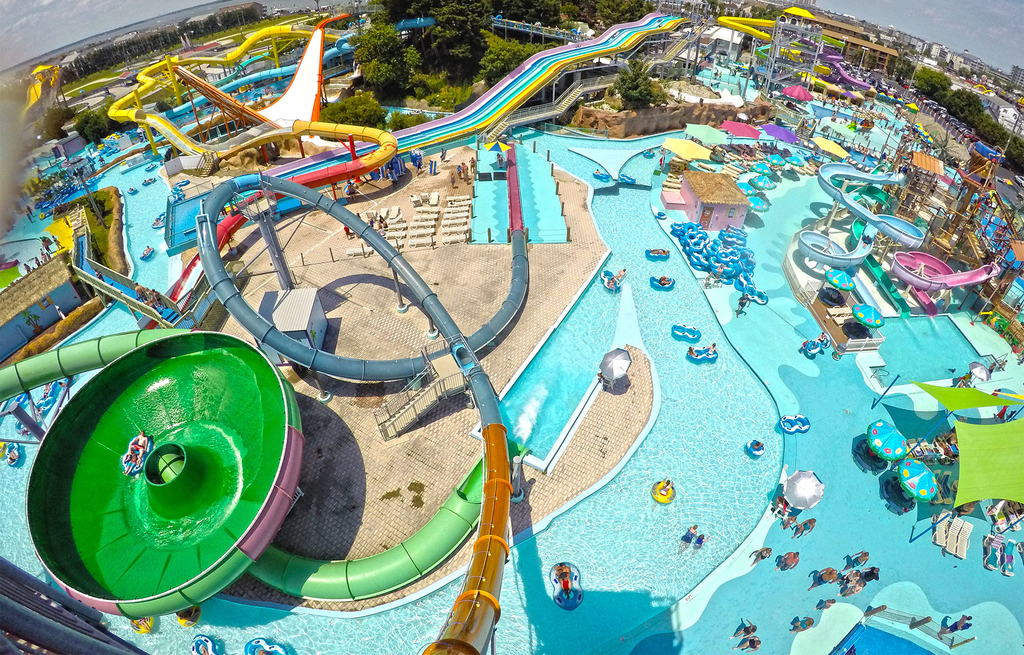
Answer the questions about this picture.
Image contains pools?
Yes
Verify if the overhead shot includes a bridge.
Yes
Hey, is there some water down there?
Yes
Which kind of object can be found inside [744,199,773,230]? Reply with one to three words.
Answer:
umbrella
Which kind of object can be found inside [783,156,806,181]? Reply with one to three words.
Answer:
umbrella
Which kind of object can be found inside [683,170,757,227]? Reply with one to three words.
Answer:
shed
